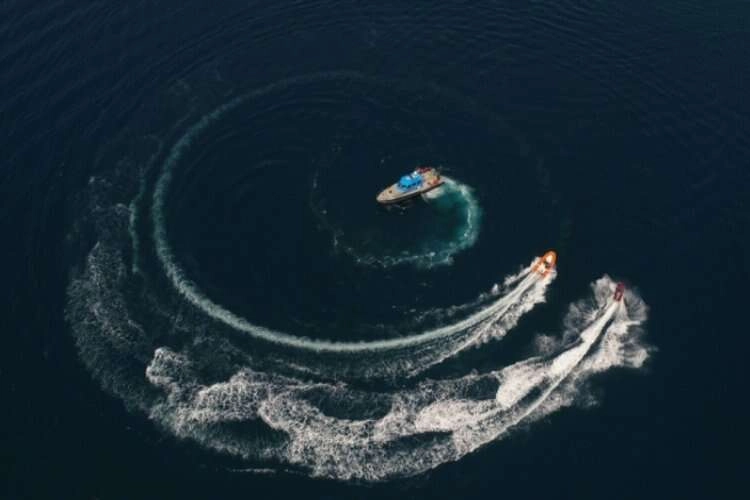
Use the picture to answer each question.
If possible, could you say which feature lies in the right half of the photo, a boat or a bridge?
boat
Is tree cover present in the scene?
No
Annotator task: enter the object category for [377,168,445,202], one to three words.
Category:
boat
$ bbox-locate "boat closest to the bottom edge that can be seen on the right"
[612,281,625,302]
